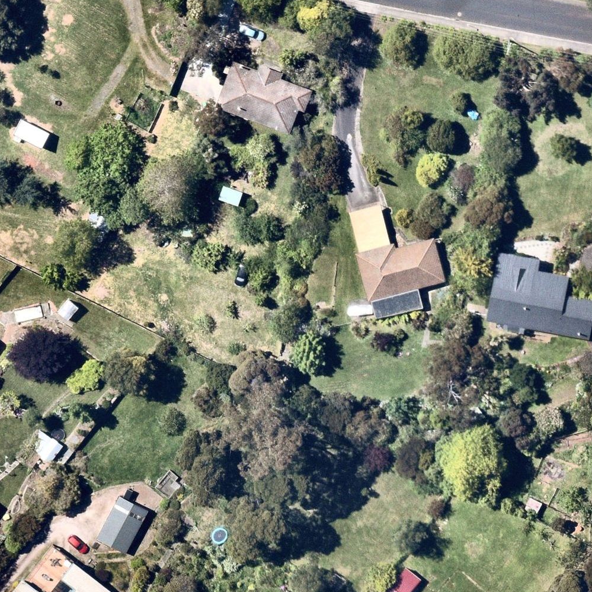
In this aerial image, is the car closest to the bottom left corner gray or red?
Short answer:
red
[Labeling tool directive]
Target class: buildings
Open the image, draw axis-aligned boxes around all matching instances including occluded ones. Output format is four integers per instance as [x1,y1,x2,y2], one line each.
[355,239,446,319]
[98,493,149,554]
[58,297,79,320]
[219,64,312,134]
[36,429,63,462]
[14,118,49,150]
[525,496,542,513]
[219,188,242,207]
[12,544,113,592]
[488,252,592,340]
[393,566,421,592]
[14,304,42,323]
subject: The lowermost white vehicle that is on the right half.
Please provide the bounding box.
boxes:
[348,304,373,318]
